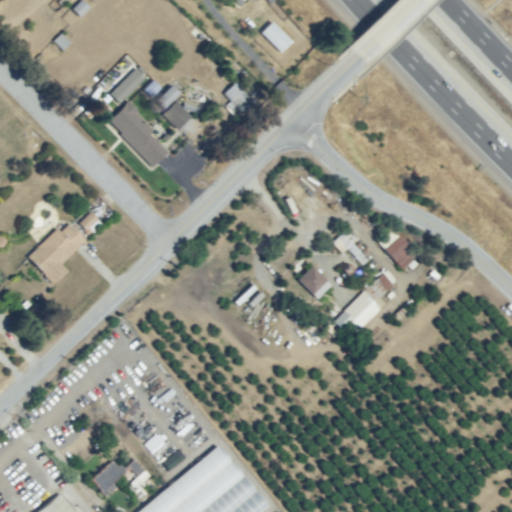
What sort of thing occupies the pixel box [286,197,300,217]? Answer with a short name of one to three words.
vehicle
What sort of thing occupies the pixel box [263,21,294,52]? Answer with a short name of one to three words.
shed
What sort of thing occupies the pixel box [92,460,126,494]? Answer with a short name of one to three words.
house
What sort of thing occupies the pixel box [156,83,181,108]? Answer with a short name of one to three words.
building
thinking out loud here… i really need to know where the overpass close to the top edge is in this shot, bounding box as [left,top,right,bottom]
[340,0,443,78]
